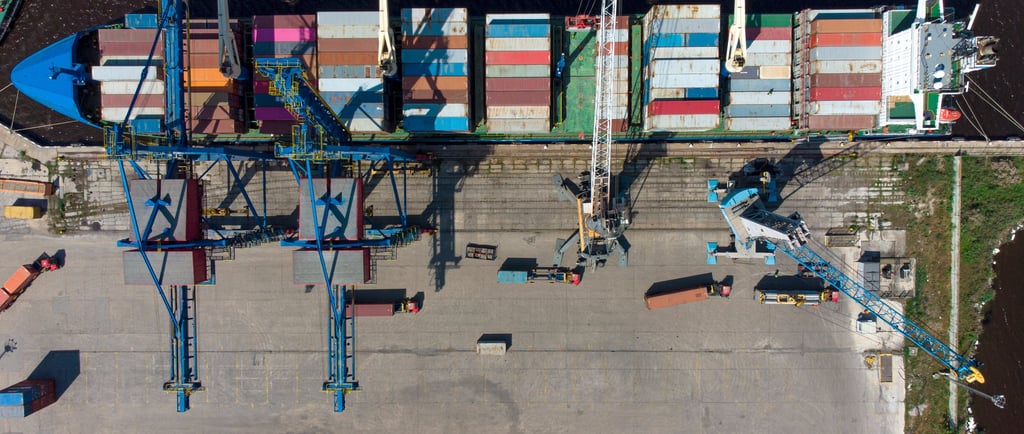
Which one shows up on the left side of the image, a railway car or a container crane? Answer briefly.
container crane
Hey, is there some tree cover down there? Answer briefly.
No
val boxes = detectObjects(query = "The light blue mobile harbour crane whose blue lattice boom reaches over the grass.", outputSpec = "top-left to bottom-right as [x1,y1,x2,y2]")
[707,159,991,387]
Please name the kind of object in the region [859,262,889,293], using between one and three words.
shed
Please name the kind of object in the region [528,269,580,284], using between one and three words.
vehicle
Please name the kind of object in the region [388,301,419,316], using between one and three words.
vehicle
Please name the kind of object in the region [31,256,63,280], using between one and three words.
truck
